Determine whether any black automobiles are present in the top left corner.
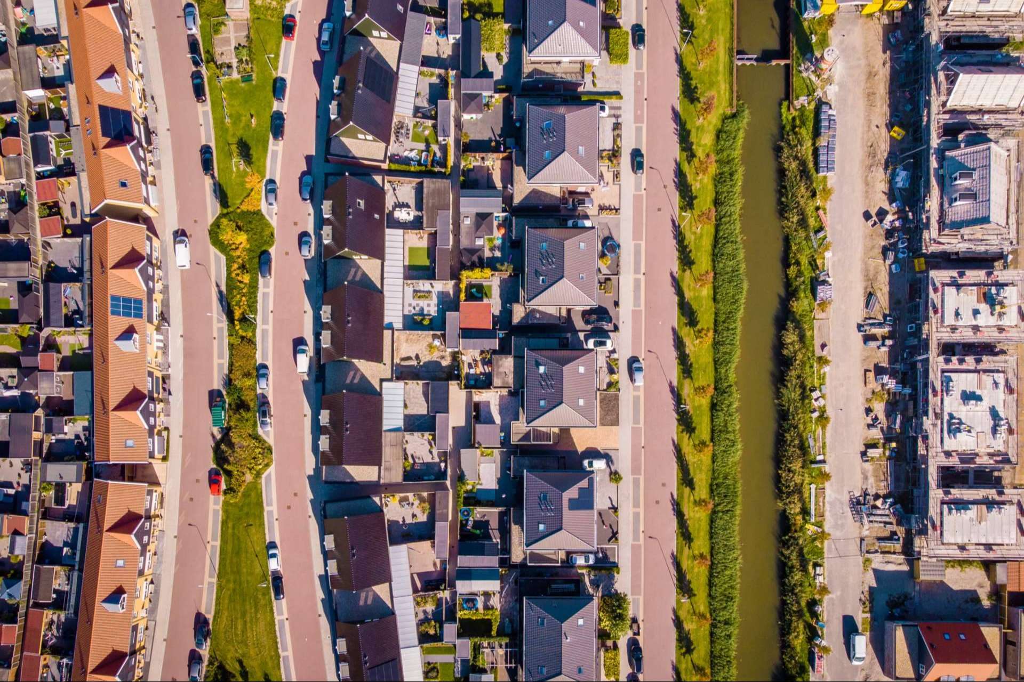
Yes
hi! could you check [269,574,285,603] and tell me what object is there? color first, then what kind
black car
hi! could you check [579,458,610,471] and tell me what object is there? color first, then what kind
white vehicle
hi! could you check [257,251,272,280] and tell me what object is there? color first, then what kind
blue car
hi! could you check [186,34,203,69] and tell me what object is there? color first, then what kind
black car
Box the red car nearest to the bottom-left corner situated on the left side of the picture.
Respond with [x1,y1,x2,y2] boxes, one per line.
[206,472,222,499]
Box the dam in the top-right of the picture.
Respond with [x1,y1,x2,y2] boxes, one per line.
[736,53,790,68]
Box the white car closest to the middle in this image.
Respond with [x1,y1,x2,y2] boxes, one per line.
[585,337,617,352]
